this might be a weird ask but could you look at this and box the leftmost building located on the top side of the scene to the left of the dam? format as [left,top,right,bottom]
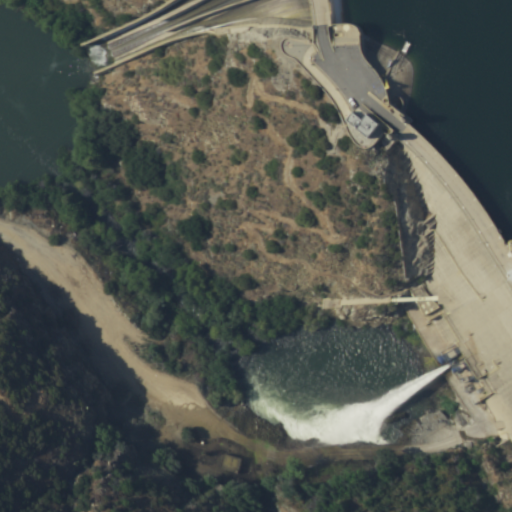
[346,113,379,138]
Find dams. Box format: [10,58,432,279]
[386,116,512,392]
